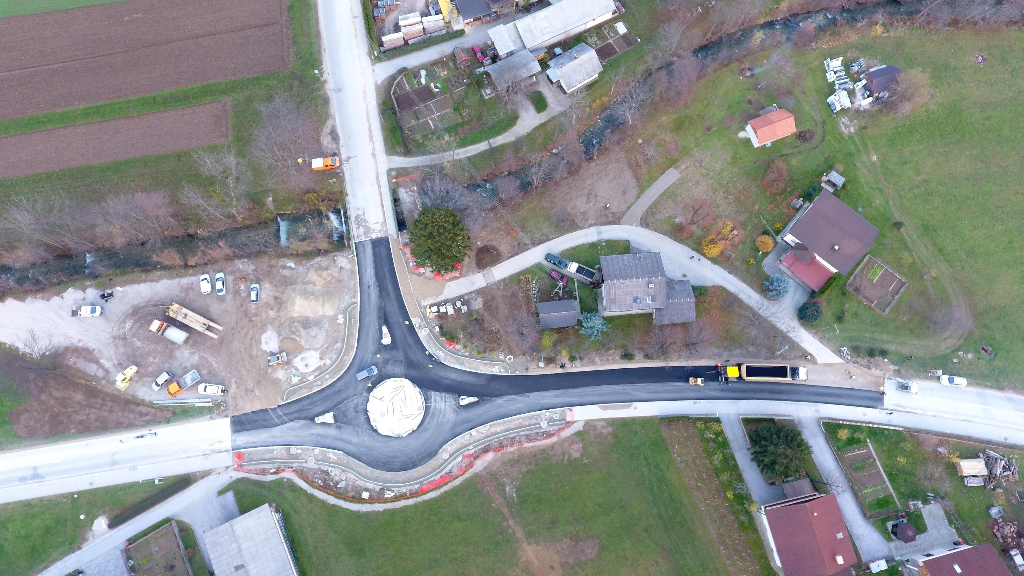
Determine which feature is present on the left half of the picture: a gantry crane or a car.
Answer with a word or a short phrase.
car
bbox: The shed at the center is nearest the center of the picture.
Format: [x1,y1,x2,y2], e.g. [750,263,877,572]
[537,299,577,330]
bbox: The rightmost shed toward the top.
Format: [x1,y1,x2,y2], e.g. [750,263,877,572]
[860,64,902,95]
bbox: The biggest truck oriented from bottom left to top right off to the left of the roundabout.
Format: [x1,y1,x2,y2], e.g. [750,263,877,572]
[165,368,202,399]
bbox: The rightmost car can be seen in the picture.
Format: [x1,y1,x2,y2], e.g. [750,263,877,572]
[939,373,967,386]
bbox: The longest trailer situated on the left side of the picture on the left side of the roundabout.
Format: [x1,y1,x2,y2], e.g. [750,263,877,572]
[163,302,224,341]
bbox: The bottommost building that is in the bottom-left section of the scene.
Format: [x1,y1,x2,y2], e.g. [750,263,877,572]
[202,502,297,576]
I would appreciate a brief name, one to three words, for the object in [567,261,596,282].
truck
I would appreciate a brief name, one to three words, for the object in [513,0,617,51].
building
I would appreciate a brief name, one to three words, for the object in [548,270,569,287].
car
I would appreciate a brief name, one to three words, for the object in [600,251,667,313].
house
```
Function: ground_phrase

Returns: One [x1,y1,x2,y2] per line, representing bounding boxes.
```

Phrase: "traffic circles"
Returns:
[230,236,884,472]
